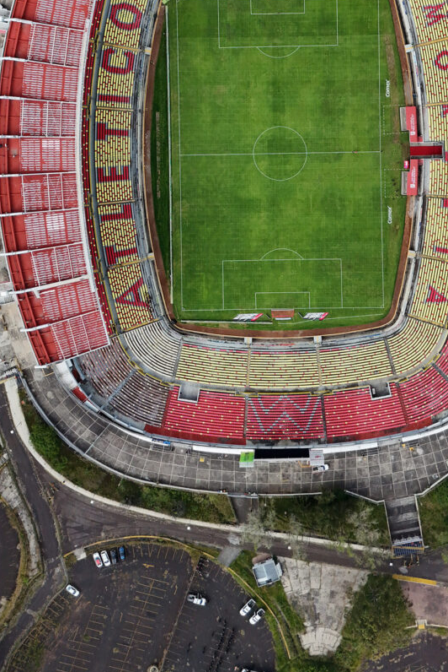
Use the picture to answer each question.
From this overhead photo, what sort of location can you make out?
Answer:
sports ground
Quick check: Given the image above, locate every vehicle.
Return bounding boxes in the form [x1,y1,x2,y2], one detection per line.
[100,552,109,568]
[188,596,205,606]
[65,586,78,598]
[108,551,116,566]
[251,610,265,627]
[117,548,125,562]
[92,554,101,569]
[241,601,255,617]
[313,464,330,473]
